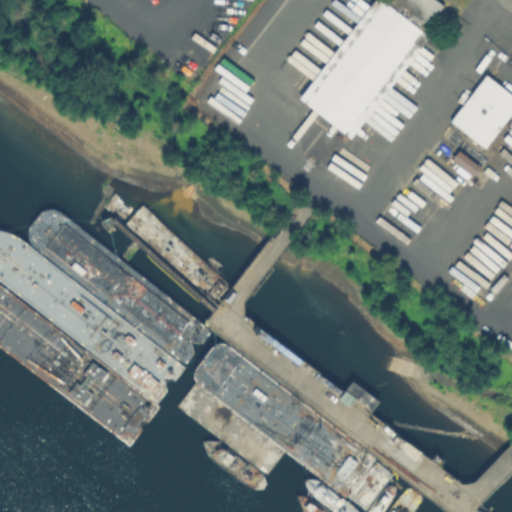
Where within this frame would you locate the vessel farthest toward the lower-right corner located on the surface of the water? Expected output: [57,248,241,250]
[389,487,423,512]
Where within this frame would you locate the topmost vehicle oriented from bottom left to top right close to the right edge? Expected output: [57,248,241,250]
[478,50,496,74]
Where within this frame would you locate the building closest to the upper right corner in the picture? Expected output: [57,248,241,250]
[452,74,512,148]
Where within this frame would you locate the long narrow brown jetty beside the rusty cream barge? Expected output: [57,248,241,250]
[116,220,216,308]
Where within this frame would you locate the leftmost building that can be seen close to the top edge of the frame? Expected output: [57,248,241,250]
[301,0,426,131]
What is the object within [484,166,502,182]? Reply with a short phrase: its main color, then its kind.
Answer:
white vehicle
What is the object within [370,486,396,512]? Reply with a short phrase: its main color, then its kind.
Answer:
white boat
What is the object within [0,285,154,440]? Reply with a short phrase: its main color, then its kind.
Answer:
gray ship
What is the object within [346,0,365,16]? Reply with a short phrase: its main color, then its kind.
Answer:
white vehicle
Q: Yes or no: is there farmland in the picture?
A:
No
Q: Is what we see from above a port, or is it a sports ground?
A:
port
